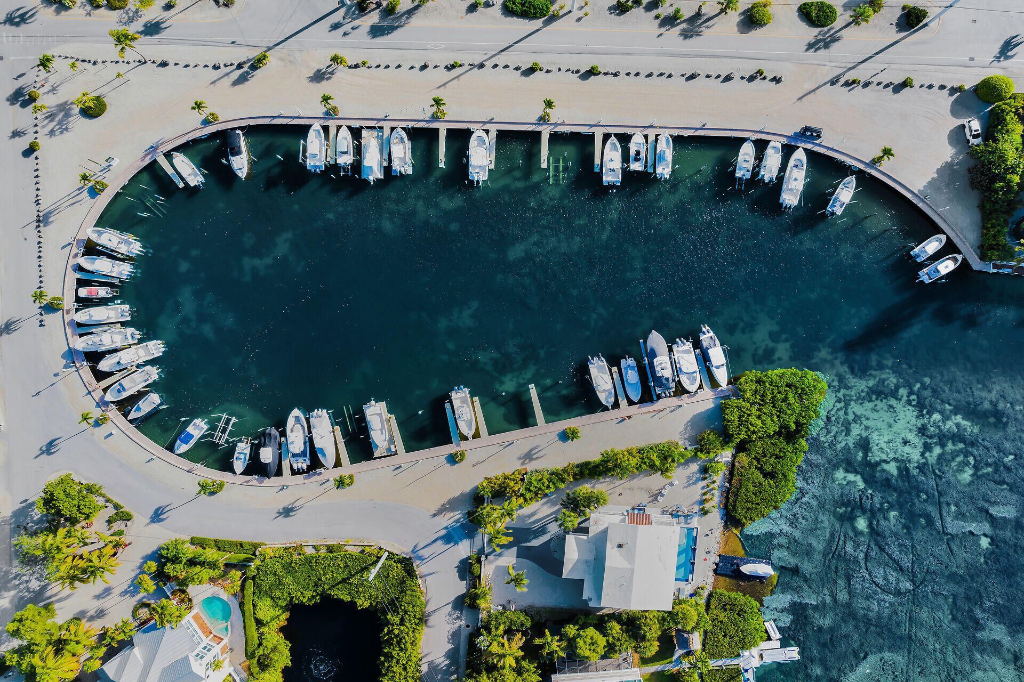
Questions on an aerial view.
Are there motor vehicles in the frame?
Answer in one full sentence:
Yes, the picture does show a motor vehicle.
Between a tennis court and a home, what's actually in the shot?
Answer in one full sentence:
Looking from above, you can make out a home.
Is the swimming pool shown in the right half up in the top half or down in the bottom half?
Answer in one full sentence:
It is in the bottom half that the swimming pool shown in the right half appears.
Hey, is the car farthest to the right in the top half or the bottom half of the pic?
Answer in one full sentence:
The car farthest to the right sits in the top half of the picture.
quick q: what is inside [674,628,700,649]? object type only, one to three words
gazebo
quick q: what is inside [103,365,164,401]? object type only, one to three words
boat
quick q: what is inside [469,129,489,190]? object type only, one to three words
boat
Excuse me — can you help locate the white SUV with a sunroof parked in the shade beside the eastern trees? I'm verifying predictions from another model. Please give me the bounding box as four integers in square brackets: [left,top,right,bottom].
[962,116,982,147]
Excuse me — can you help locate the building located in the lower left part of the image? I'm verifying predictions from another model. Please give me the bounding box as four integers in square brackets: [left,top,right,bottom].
[94,601,234,682]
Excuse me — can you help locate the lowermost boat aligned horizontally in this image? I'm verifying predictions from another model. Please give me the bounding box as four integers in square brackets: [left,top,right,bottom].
[763,644,805,661]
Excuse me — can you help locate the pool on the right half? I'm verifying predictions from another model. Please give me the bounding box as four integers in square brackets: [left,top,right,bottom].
[674,526,698,585]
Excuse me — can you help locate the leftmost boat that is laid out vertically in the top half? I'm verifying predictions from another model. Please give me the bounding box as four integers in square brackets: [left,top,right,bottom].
[222,129,249,179]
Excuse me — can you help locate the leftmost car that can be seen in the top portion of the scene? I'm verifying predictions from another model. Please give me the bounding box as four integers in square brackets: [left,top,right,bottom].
[797,123,824,139]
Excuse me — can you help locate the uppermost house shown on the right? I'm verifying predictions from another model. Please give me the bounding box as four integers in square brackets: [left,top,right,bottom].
[561,507,680,610]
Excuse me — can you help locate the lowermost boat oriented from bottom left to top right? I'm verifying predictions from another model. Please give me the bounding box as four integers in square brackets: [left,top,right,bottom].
[173,414,211,454]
